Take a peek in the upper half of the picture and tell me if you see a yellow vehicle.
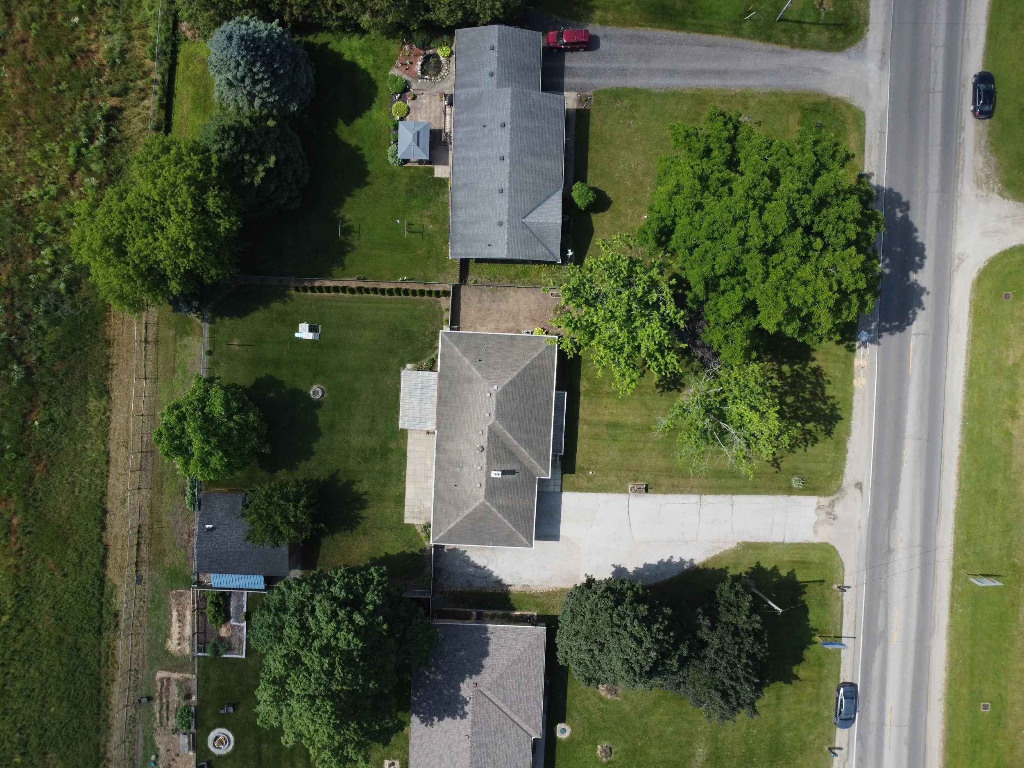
No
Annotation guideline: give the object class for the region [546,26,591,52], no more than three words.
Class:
car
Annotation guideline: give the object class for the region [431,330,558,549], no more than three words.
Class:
house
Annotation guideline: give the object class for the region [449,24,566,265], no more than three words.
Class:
house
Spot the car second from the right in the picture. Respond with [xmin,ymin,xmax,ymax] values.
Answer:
[835,681,861,729]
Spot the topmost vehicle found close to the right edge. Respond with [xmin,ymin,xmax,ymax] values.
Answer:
[973,69,1000,118]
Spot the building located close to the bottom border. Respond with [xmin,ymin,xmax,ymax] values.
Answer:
[407,616,550,768]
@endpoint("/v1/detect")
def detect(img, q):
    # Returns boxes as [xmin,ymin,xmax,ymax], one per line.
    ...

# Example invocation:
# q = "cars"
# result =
[973,69,1000,118]
[835,681,861,729]
[546,26,591,52]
